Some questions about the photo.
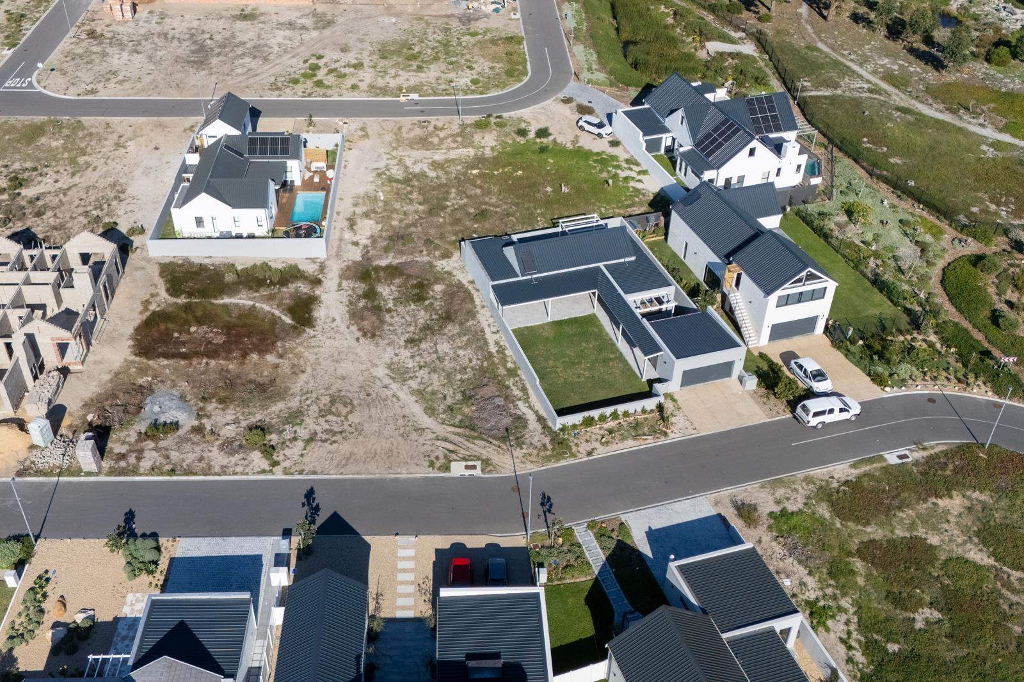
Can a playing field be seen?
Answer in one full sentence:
No, I can see no playing field in this picture.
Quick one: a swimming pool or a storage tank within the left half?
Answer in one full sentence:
The one visible within the left half is a swimming pool.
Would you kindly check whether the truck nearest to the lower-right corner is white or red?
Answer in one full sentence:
The truck nearest to the lower-right corner is white.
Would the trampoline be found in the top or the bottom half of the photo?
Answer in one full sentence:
The trampoline sits in the top half of the picture.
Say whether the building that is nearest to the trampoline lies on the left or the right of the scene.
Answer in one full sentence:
You can find the building that is nearest to the trampoline on the left side of the picture.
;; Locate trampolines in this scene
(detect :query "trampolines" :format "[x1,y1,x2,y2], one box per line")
[281,218,319,239]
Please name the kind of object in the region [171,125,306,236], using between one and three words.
building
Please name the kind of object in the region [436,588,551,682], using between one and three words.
house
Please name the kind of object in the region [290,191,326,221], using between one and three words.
swimming pool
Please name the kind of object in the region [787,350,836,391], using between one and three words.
car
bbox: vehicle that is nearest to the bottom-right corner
[797,389,866,426]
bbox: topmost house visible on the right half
[617,74,821,191]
